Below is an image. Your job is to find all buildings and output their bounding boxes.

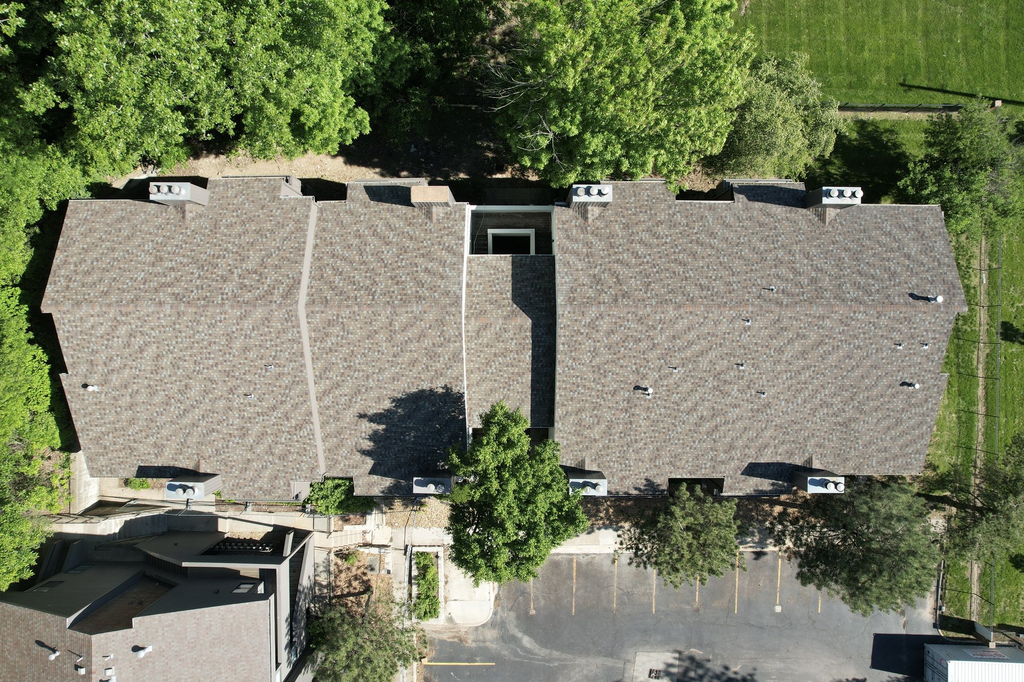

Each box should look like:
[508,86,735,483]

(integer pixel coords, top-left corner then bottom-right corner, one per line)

[42,176,967,501]
[0,532,342,682]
